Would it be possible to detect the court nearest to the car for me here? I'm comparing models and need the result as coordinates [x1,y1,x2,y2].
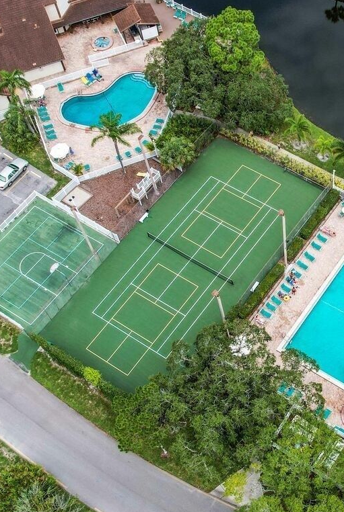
[0,195,118,334]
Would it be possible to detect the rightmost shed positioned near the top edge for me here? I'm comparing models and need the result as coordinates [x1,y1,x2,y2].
[112,3,162,45]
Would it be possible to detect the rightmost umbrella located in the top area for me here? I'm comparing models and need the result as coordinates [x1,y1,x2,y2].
[49,143,71,164]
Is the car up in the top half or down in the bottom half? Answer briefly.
top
